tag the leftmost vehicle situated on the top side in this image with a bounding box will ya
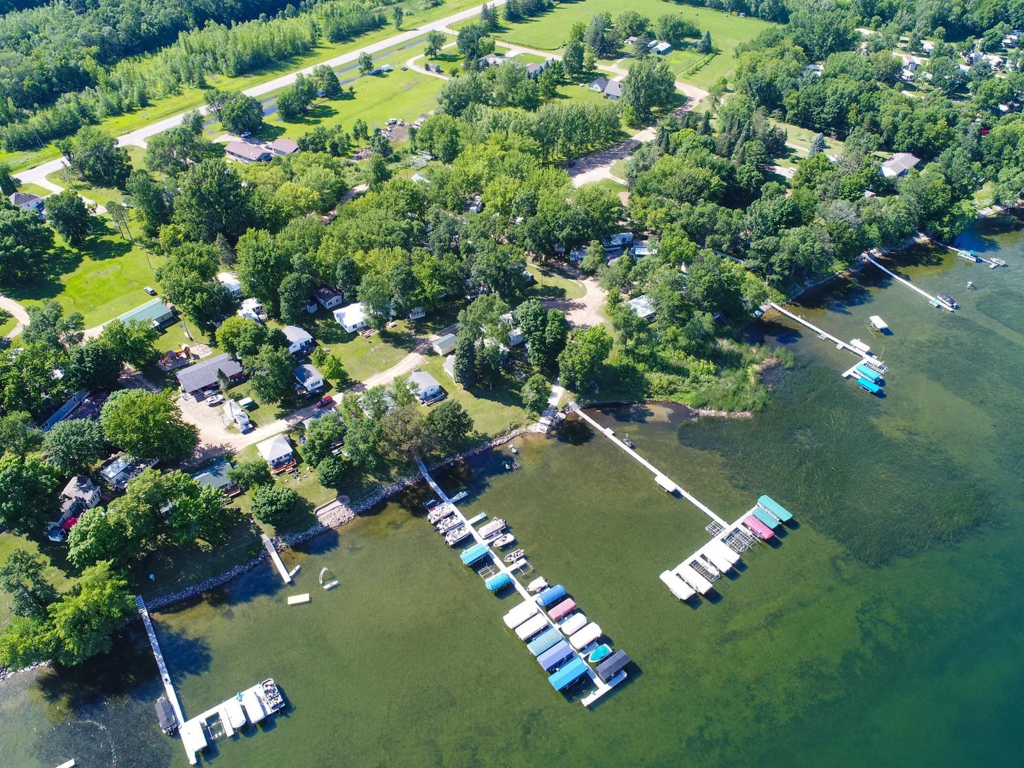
[142,284,158,297]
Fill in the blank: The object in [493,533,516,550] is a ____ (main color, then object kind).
white boat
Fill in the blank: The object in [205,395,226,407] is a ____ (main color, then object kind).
white vehicle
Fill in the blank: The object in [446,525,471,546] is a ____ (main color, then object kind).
white boat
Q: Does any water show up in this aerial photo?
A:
Yes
